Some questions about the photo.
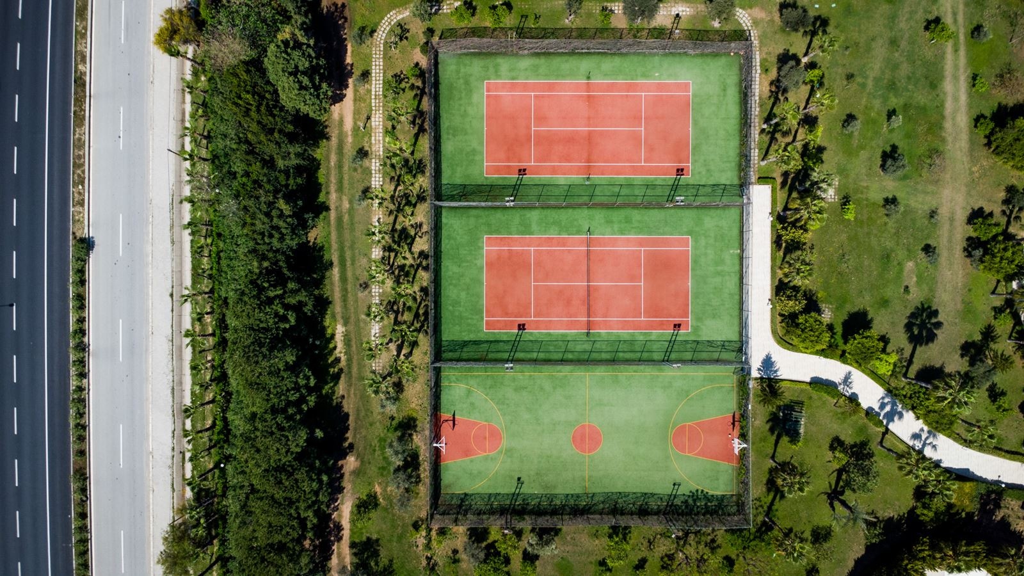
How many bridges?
0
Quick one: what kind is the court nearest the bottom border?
basketball court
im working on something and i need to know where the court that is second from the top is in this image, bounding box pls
[433,207,742,361]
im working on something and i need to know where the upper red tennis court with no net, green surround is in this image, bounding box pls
[433,52,742,206]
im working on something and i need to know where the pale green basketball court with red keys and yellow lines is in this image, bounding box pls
[433,362,742,516]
